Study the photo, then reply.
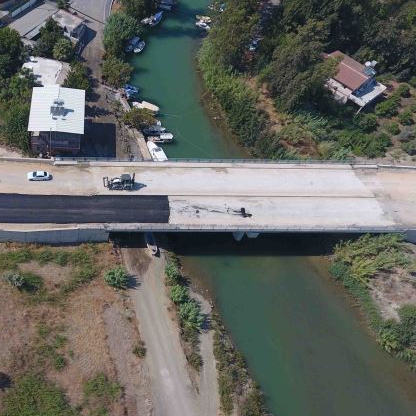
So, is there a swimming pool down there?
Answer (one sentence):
No, I can't see a single swimming pool in this photo.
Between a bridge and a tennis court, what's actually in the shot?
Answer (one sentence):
Looking from above, you can make out a bridge.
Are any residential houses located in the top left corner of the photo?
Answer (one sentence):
Yes, a residential house shows up in the top left corner of the photo.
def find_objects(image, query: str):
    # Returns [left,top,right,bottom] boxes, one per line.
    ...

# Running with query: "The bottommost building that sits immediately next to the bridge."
[27,87,85,153]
